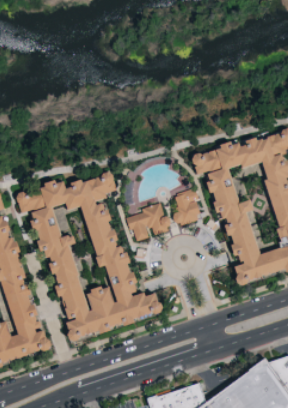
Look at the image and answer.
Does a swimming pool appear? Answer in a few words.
Yes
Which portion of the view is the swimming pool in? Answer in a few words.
center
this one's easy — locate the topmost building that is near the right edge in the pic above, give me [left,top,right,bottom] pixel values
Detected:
[190,129,288,285]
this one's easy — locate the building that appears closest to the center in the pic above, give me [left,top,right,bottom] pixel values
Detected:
[126,203,172,240]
